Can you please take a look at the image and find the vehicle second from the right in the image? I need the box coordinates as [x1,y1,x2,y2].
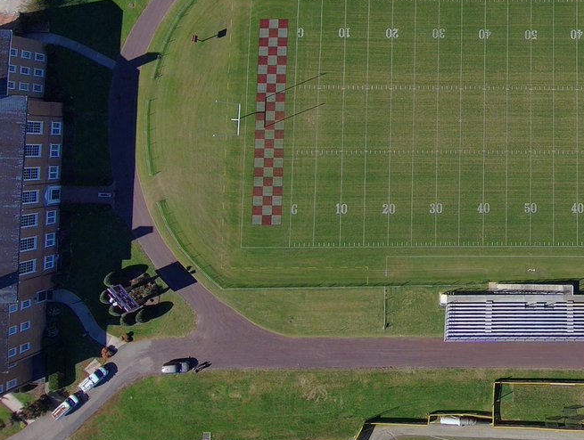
[72,367,107,394]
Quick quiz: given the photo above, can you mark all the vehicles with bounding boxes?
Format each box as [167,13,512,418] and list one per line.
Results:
[46,394,80,425]
[160,362,187,374]
[72,367,107,394]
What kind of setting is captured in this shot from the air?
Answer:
sports ground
